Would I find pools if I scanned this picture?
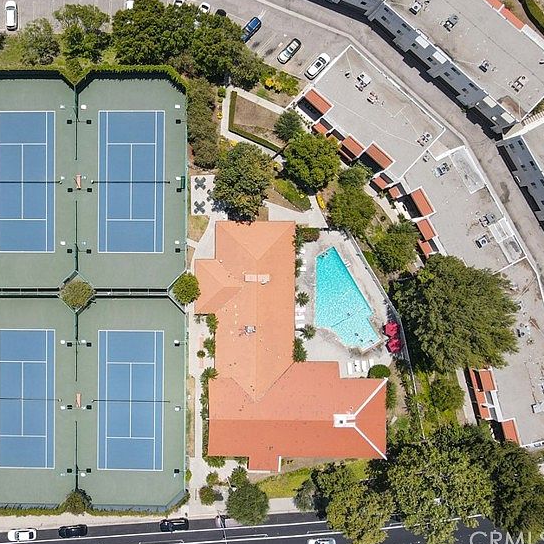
Yes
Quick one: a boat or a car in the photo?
car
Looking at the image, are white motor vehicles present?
Yes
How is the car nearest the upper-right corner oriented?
diagonally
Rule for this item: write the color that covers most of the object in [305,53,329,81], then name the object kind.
white car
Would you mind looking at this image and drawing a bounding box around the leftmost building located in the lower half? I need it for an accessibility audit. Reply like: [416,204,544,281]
[194,221,386,474]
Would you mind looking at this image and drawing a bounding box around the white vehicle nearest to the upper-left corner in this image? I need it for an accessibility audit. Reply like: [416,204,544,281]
[4,1,17,30]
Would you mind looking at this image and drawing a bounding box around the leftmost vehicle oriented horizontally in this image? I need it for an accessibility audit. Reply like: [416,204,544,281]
[8,528,36,542]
